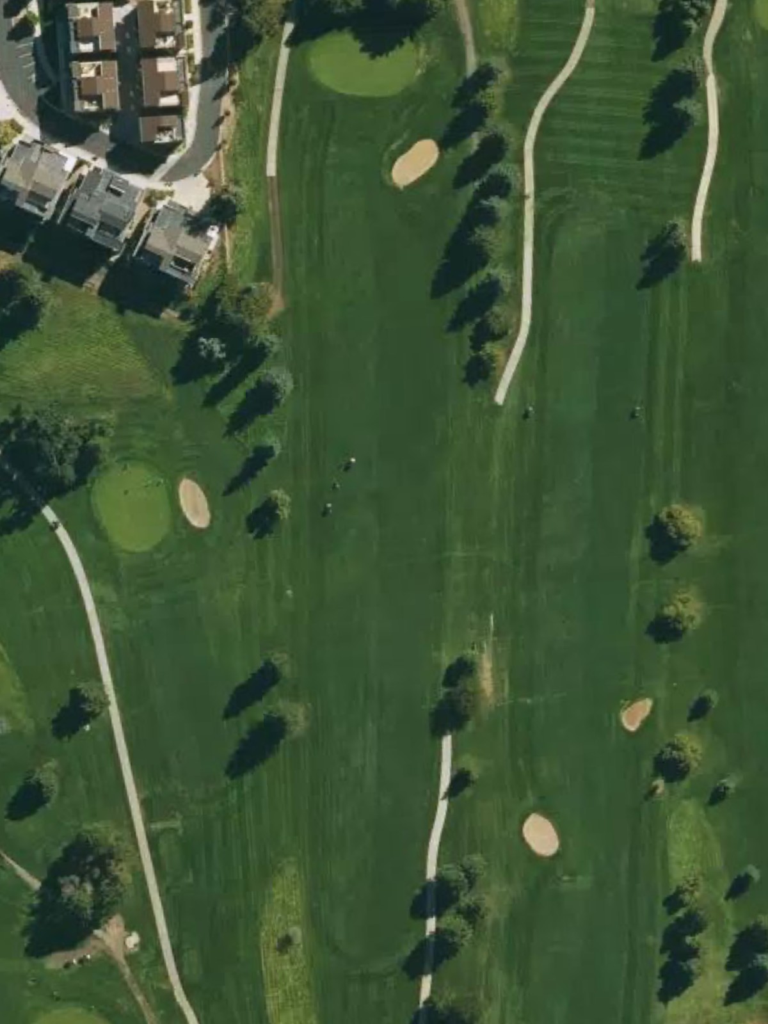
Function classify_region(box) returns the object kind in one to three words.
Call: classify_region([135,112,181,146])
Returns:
house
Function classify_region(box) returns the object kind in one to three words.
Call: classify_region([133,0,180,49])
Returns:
house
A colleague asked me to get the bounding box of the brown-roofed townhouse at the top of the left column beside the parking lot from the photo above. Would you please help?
[62,0,114,56]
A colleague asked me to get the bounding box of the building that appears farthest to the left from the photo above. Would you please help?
[0,138,63,225]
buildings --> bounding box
[133,0,180,49]
[137,54,185,110]
[62,0,114,56]
[66,57,118,114]
[0,138,63,225]
[65,165,140,252]
[135,112,181,146]
[140,201,215,288]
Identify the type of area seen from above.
golf course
